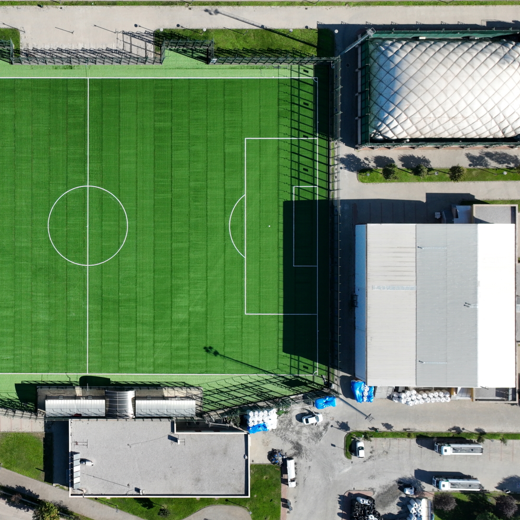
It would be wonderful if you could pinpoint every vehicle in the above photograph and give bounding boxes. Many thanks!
[435,440,483,456]
[355,440,365,459]
[285,458,298,486]
[397,483,415,495]
[432,474,481,490]
[301,411,322,427]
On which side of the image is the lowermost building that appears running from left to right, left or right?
left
